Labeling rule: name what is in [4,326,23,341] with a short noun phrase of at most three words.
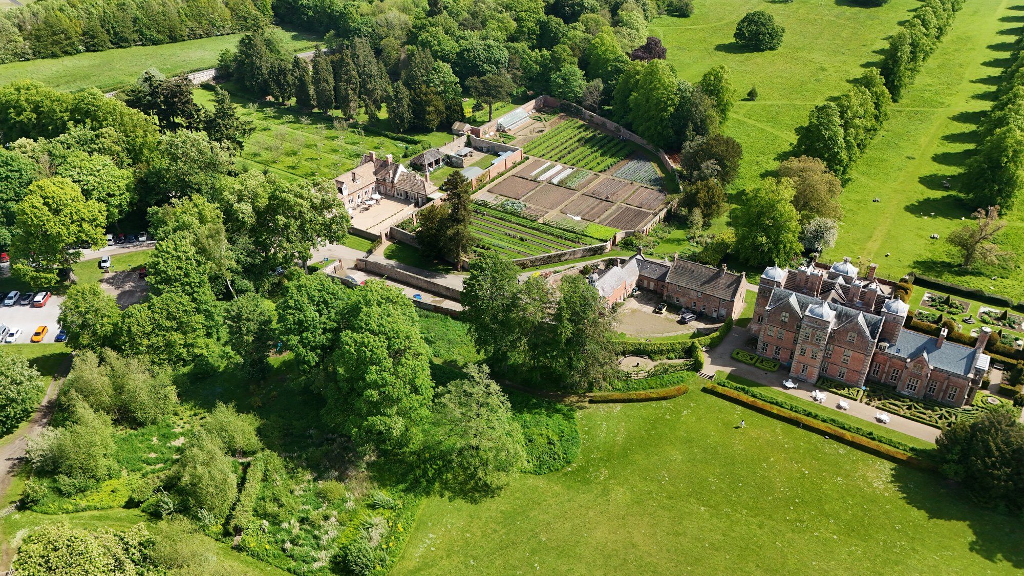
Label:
car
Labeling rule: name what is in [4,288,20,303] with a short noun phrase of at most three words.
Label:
car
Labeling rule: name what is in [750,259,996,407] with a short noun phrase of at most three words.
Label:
house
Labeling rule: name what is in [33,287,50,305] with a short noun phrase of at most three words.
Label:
vehicle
